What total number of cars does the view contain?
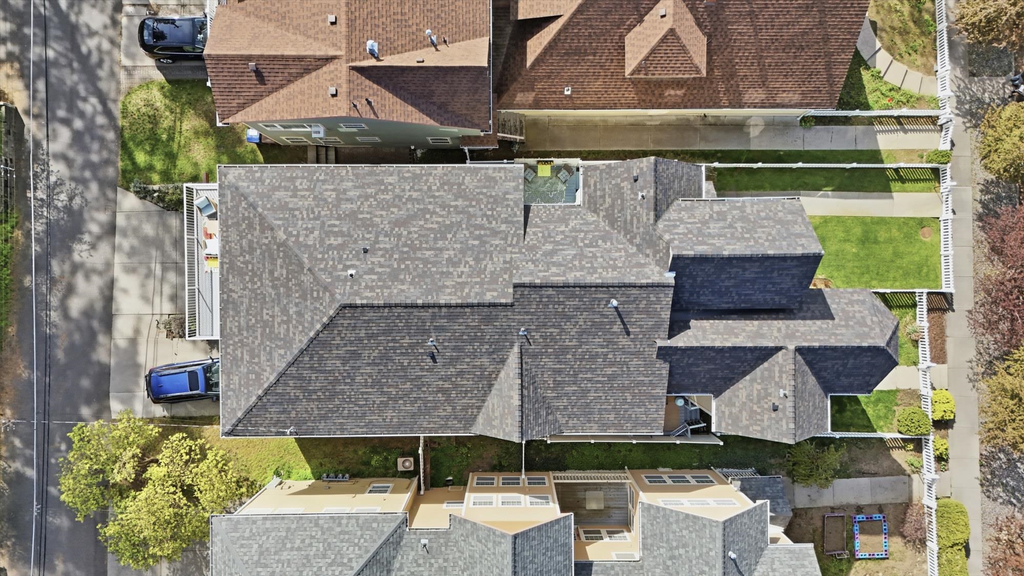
two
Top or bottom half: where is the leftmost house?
top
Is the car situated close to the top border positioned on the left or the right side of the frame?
left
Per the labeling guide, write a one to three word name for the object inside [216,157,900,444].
house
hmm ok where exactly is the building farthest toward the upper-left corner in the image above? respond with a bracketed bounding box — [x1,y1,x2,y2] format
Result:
[202,0,499,153]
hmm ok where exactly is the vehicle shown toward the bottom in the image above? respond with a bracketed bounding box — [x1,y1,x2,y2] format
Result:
[138,355,216,406]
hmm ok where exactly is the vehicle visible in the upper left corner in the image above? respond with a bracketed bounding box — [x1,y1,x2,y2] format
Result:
[138,15,214,66]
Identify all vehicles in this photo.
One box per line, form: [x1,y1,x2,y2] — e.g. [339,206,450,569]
[138,355,216,406]
[138,15,214,66]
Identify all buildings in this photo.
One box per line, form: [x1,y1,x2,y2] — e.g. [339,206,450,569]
[498,0,866,115]
[208,463,818,576]
[216,157,900,444]
[202,0,499,153]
